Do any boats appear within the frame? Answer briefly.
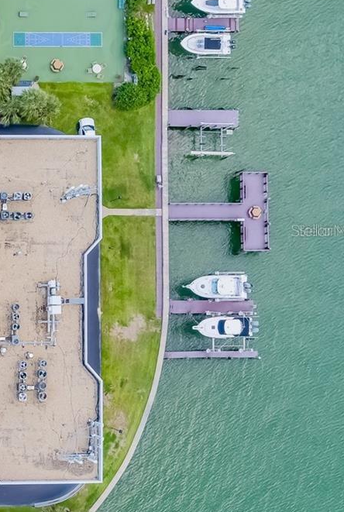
Yes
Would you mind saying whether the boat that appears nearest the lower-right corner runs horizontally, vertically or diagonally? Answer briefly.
horizontally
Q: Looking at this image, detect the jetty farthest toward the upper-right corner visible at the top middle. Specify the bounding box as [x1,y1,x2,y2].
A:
[168,15,239,35]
